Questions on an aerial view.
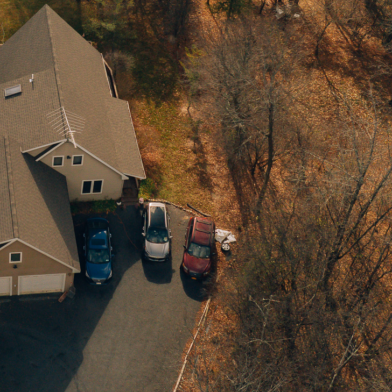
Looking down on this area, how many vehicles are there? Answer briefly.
3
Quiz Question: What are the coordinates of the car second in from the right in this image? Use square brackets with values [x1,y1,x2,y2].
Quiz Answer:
[140,199,177,264]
